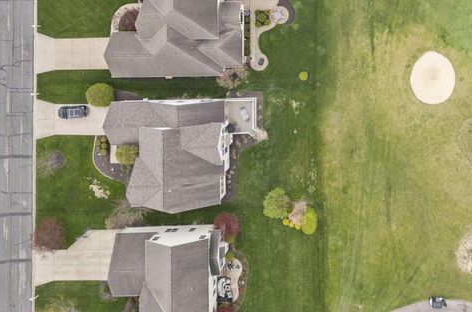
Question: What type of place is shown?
golf course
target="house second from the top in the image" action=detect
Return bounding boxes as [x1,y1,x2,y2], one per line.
[103,98,231,214]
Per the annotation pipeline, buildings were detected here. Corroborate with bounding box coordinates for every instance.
[108,225,234,312]
[103,98,231,214]
[104,0,245,81]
